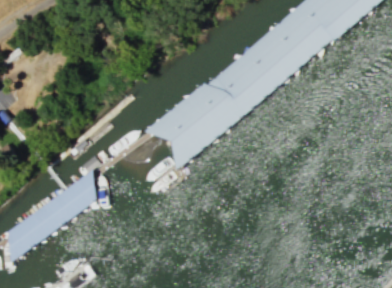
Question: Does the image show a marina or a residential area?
marina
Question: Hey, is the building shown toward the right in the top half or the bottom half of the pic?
top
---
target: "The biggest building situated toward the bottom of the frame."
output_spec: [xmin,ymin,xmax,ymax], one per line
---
[8,171,97,263]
